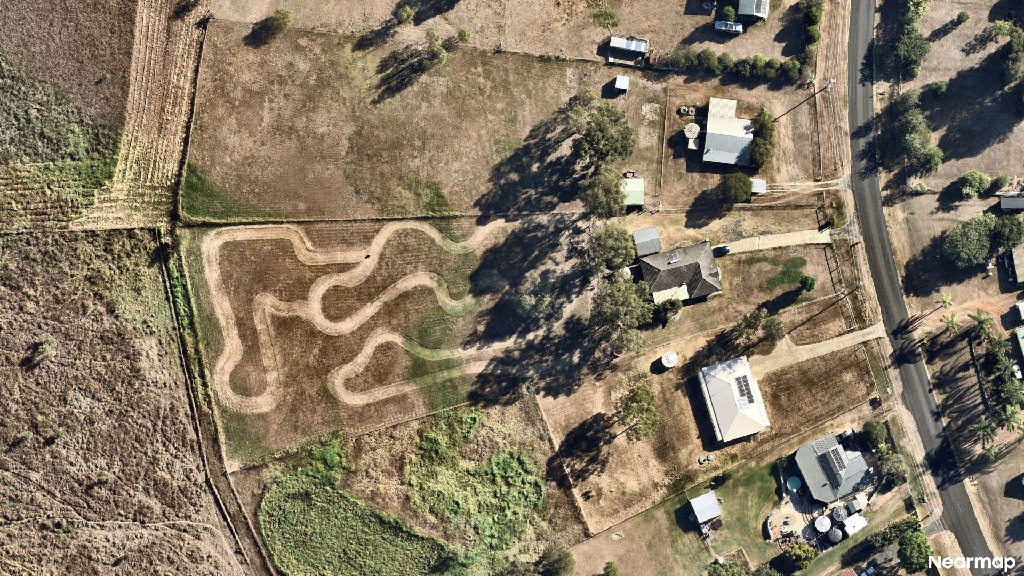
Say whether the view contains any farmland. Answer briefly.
Yes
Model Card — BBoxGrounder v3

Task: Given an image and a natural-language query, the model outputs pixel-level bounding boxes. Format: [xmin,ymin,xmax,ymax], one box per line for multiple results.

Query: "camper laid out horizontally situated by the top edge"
[715,21,743,34]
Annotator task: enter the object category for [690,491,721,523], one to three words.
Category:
shed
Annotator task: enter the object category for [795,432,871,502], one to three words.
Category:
house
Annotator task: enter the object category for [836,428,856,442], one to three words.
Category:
vehicle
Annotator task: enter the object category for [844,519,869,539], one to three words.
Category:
camper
